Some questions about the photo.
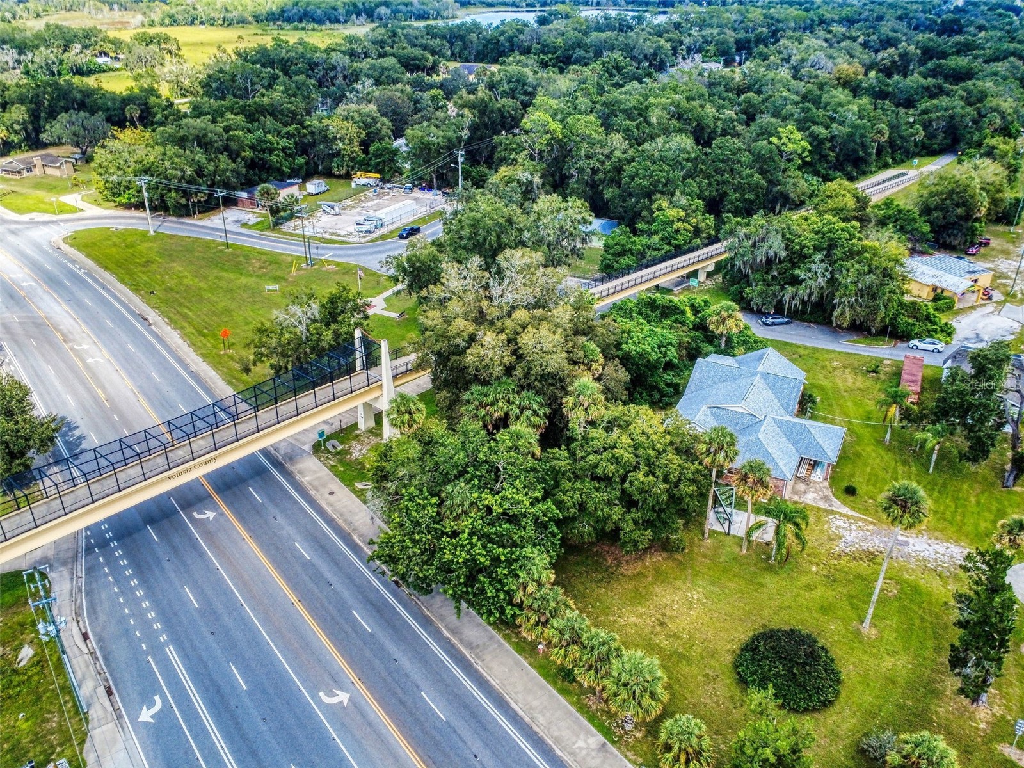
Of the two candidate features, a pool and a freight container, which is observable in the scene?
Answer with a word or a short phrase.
freight container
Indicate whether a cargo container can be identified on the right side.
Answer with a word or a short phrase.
Yes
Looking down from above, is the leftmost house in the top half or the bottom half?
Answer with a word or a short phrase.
top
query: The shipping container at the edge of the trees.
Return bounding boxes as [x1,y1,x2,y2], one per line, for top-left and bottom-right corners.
[901,350,929,403]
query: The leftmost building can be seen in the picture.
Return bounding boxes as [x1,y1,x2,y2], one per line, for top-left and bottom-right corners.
[0,151,76,185]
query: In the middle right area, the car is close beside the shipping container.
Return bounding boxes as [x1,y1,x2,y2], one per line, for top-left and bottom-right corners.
[909,339,946,354]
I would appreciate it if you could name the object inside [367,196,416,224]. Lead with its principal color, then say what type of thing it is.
white trailer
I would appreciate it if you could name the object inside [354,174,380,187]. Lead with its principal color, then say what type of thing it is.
white vehicle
